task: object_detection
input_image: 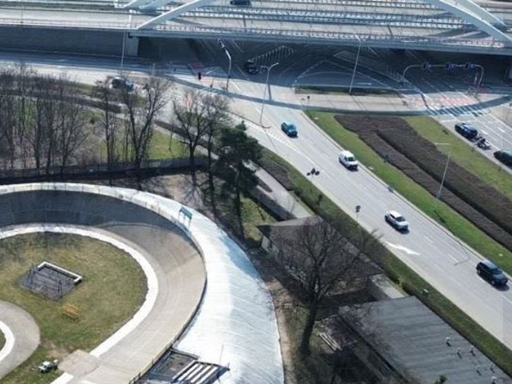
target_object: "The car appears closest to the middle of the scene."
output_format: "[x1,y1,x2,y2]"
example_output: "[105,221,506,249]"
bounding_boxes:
[279,117,298,133]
